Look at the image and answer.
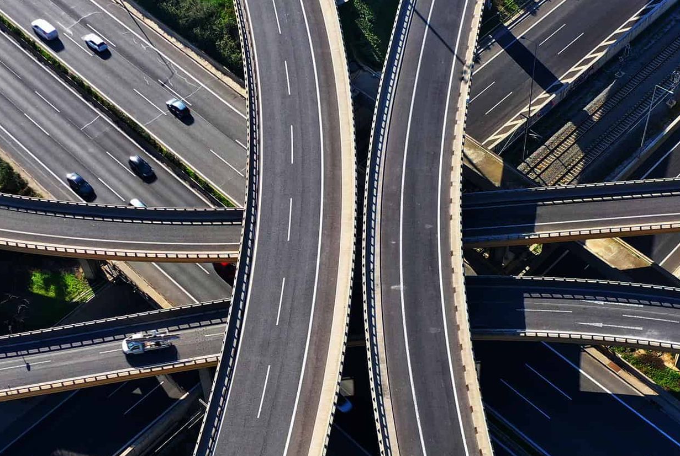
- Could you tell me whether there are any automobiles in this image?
Yes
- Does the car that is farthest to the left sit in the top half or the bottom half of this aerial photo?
top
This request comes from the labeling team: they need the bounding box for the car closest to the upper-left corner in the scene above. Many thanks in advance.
[32,21,58,41]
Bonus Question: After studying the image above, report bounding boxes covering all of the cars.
[125,197,153,212]
[85,35,108,54]
[32,21,58,41]
[67,175,94,200]
[126,155,156,182]
[166,98,191,120]
[336,389,358,417]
